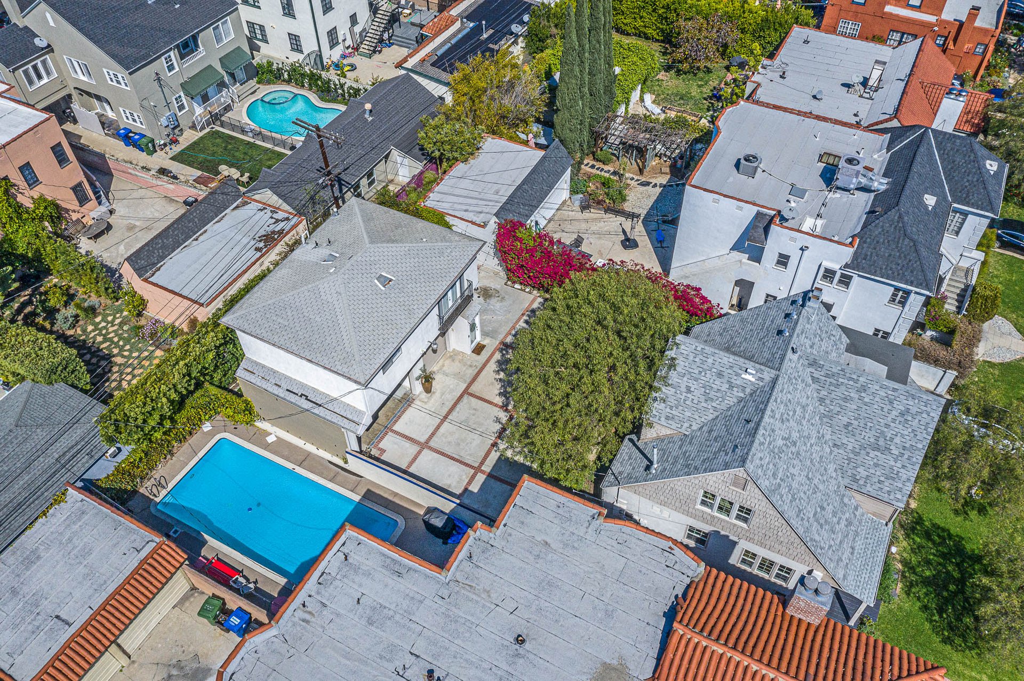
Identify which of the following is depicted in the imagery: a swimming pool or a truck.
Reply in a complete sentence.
The one in the frame is a swimming pool.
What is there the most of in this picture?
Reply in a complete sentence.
The largest share of the image is taken up by buildings.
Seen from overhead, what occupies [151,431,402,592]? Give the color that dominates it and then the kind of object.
blue swimming pool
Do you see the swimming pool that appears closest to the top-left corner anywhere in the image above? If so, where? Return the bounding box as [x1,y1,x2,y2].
[224,84,345,142]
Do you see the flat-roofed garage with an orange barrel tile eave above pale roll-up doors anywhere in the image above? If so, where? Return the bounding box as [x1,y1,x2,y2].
[0,484,189,681]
